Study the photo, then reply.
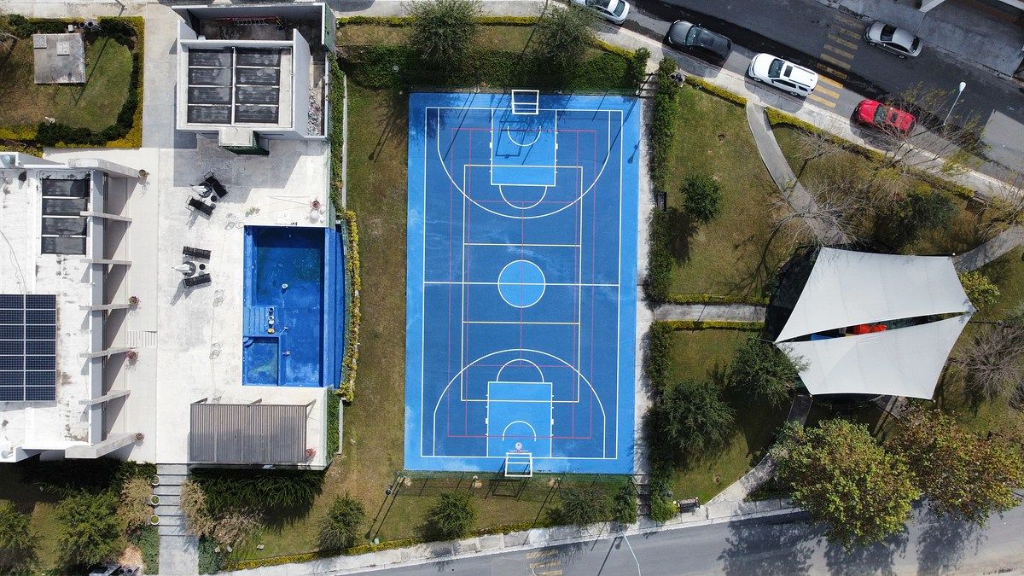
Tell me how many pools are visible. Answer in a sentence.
The photo contains exactly 1 pool.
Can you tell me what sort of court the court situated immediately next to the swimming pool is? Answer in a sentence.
It turns out the court situated immediately next to the swimming pool is a basketball court.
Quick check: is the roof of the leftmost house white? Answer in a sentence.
Yes, the roof of the leftmost house is white.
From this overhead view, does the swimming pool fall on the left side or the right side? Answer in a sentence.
The swimming pool is on the left side of the image.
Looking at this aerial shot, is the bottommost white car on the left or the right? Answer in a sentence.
The bottommost white car appears in the right half of the scene.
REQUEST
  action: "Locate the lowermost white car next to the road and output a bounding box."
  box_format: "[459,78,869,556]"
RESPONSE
[750,52,821,97]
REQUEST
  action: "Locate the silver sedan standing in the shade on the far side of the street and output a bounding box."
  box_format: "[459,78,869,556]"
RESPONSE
[862,18,925,60]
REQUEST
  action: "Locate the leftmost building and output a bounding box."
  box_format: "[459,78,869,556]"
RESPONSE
[0,148,142,468]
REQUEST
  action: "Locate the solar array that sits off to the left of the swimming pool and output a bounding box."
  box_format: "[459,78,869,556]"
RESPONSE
[0,294,57,401]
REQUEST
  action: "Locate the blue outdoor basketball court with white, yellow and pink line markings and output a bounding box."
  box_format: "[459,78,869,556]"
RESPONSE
[404,93,639,475]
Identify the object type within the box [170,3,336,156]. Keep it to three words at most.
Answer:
building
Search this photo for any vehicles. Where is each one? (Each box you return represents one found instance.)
[855,97,917,135]
[750,52,821,97]
[862,18,925,60]
[669,18,734,64]
[571,0,631,20]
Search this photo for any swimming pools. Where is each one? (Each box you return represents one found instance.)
[241,224,349,388]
